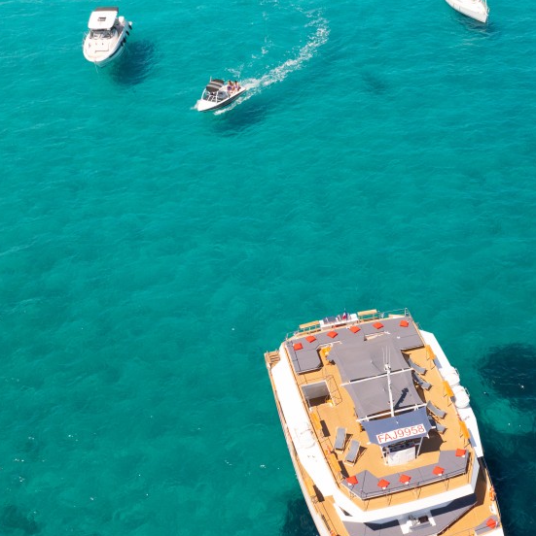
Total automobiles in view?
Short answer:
none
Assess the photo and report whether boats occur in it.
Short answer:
Yes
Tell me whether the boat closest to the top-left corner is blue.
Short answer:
No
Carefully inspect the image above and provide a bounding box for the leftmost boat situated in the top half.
[84,11,124,68]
